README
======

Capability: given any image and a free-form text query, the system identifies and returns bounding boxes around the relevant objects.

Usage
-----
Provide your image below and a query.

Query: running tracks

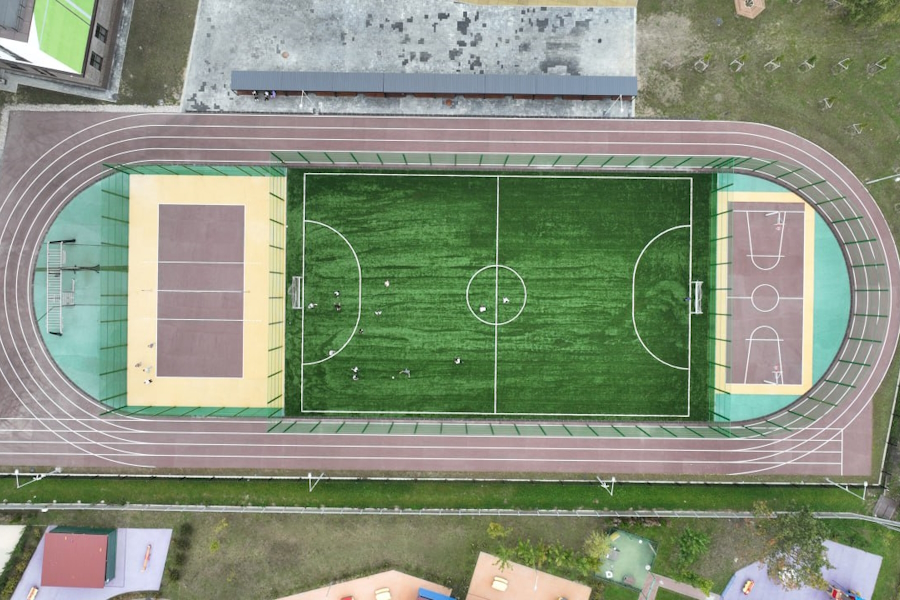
[0,112,900,475]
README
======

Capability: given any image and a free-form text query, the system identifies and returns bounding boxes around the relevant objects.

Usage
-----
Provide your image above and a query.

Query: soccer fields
[284,169,718,422]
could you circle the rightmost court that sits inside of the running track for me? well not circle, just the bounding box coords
[715,174,851,422]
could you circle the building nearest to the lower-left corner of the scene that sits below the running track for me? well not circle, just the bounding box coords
[41,526,117,588]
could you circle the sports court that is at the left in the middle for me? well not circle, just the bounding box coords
[127,167,287,416]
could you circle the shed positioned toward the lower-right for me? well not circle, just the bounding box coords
[873,495,897,519]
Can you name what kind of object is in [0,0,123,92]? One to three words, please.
building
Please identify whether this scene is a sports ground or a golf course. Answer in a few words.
sports ground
